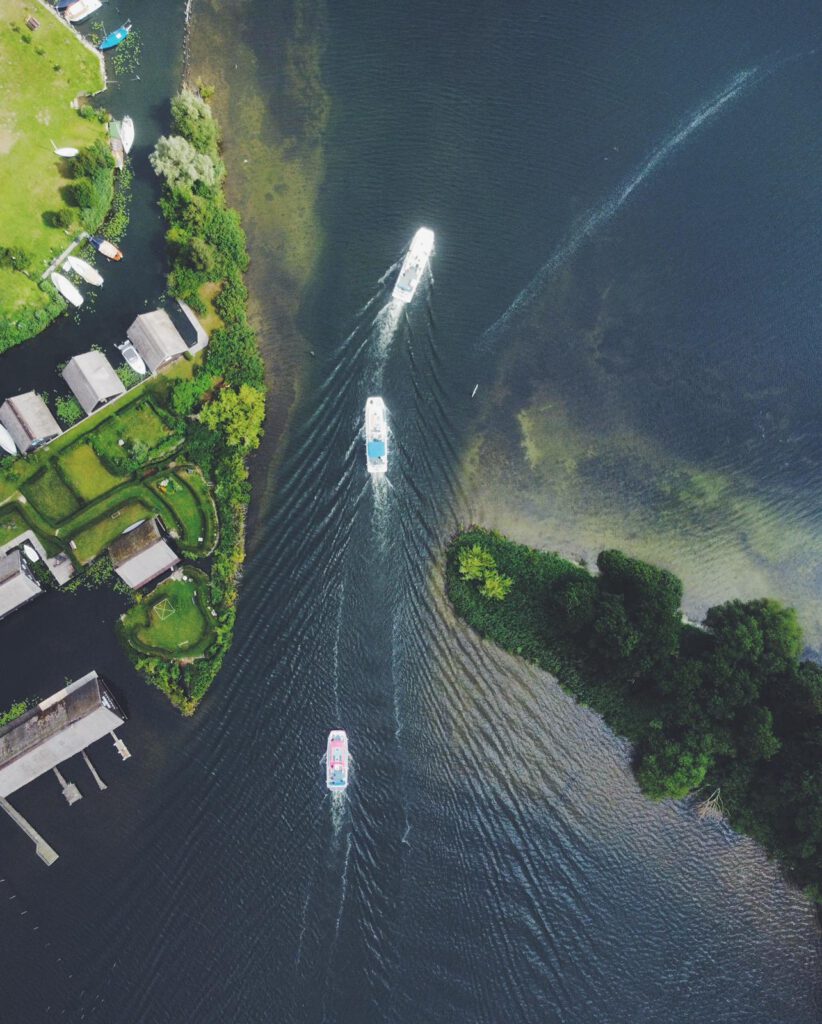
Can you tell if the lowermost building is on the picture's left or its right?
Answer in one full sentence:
The lowermost building appears in the left half of the scene.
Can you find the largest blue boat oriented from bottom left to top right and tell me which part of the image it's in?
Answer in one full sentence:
The largest blue boat oriented from bottom left to top right sits in the top left section of the image.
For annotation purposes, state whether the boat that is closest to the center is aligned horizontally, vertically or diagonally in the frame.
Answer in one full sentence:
What the image shows is the boat that is closest to the center lying vertically.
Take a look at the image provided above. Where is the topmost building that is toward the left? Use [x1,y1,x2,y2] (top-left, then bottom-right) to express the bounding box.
[127,308,190,373]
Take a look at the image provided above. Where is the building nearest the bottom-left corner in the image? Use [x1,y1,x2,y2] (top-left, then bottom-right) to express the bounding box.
[0,671,128,801]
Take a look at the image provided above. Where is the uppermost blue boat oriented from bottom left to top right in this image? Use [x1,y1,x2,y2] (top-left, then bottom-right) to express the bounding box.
[99,24,133,49]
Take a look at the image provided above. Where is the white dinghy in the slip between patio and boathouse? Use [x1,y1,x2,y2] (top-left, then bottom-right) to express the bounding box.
[24,545,40,562]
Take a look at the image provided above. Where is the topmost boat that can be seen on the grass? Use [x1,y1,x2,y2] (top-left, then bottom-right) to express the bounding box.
[50,139,79,156]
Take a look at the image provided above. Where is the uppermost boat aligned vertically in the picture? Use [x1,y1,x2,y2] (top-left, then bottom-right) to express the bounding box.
[120,116,133,154]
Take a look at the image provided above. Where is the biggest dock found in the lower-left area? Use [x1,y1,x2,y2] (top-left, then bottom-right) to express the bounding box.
[1,798,59,866]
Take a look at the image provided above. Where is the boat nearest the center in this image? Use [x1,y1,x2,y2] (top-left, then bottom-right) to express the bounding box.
[364,396,388,476]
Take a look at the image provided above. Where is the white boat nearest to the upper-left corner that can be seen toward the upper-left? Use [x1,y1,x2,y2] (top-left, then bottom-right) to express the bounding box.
[62,0,103,23]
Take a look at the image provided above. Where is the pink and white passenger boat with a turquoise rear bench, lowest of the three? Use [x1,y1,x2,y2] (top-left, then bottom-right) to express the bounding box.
[325,731,350,799]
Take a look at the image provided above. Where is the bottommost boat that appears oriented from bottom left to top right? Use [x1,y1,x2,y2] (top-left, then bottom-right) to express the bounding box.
[120,519,145,535]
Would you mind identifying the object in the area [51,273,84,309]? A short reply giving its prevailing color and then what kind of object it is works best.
white boat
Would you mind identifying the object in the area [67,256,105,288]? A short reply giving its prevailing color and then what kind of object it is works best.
white boat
